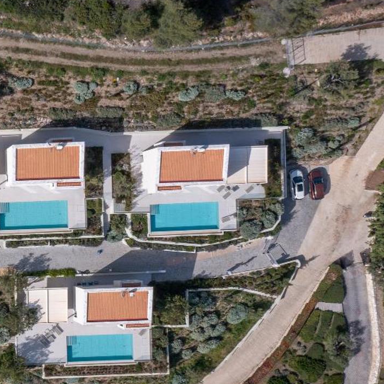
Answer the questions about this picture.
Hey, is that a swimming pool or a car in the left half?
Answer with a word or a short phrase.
swimming pool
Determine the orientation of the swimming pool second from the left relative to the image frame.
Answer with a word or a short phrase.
from side to side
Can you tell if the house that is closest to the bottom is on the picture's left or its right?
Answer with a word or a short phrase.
left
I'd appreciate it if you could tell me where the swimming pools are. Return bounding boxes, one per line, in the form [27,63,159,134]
[0,201,67,232]
[67,334,131,362]
[150,202,218,233]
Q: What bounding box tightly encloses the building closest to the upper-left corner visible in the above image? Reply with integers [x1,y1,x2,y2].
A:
[6,139,85,191]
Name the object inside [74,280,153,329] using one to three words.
house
